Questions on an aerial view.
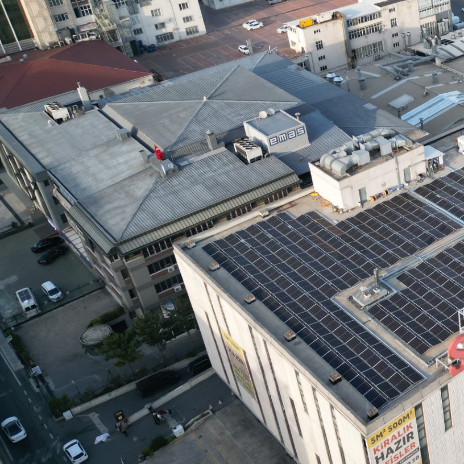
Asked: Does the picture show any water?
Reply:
No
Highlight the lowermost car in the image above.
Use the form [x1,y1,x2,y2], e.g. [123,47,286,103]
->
[61,435,90,464]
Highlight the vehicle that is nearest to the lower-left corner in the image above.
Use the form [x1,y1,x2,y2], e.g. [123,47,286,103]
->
[0,413,26,443]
